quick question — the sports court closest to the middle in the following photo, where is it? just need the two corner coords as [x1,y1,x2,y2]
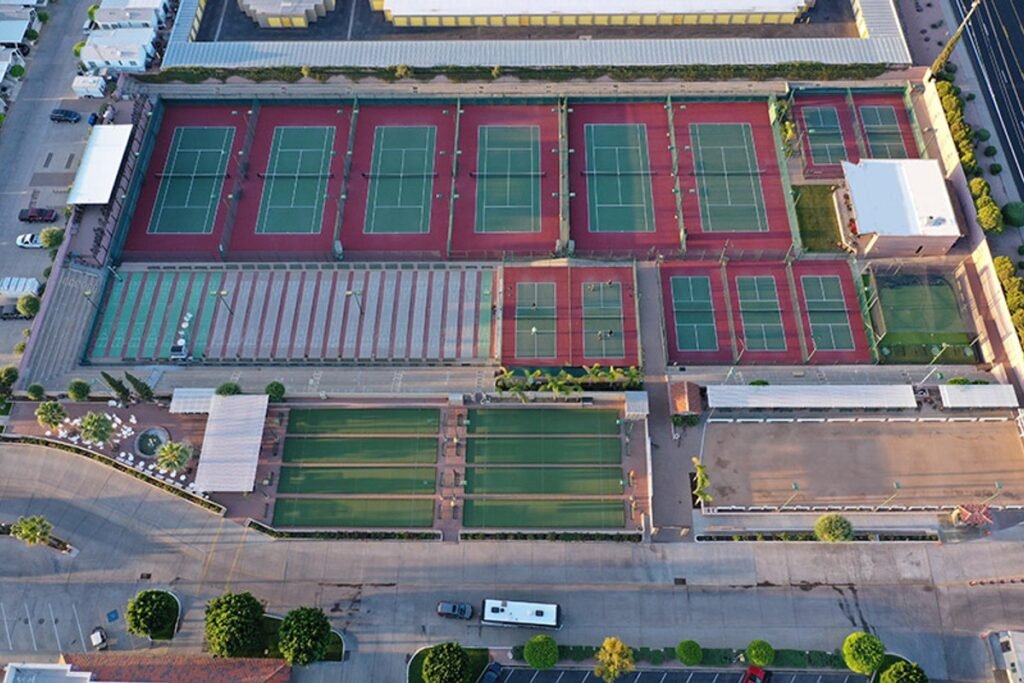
[502,267,571,365]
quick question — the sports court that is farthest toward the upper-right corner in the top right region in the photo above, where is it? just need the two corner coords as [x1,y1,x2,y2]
[847,93,927,160]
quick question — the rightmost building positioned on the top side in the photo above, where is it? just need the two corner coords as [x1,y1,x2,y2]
[835,159,960,254]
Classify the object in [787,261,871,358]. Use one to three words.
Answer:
sports court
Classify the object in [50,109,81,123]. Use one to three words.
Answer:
car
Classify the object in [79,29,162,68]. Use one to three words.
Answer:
house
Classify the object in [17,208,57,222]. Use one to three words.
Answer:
vehicle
